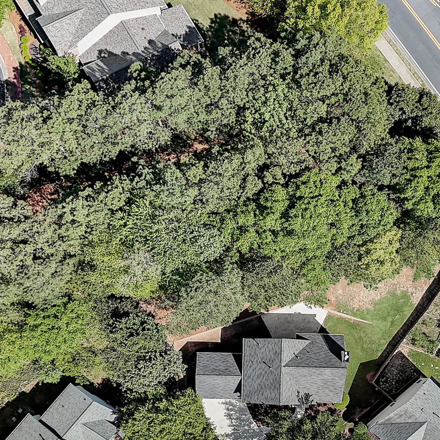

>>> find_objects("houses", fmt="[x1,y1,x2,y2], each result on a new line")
[368,377,440,440]
[196,334,353,405]
[24,0,204,87]
[5,383,123,440]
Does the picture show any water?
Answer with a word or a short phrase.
No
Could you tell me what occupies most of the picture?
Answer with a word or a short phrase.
trees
